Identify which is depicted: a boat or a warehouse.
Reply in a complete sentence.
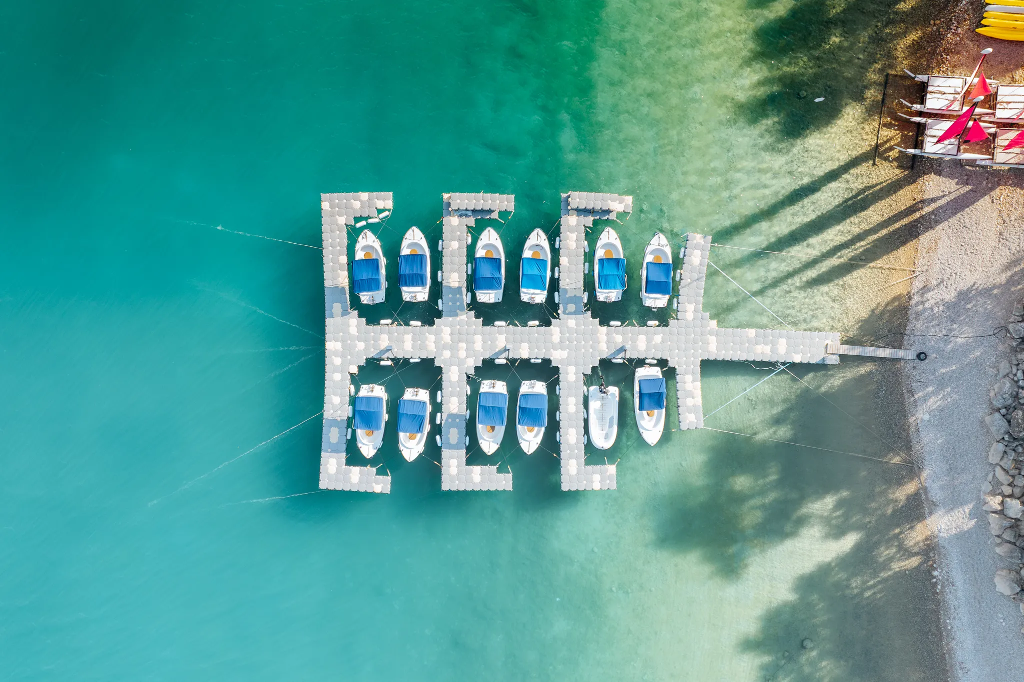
It is a boat that can be seen here.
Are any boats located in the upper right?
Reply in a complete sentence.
Yes, a boat shows up in the upper right.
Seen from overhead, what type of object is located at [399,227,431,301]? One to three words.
boat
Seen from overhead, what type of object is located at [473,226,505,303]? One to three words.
boat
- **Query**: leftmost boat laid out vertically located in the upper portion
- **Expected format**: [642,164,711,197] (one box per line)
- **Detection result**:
[353,228,387,305]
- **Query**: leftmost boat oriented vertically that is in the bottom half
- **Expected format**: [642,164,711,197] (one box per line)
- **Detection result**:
[355,383,388,459]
